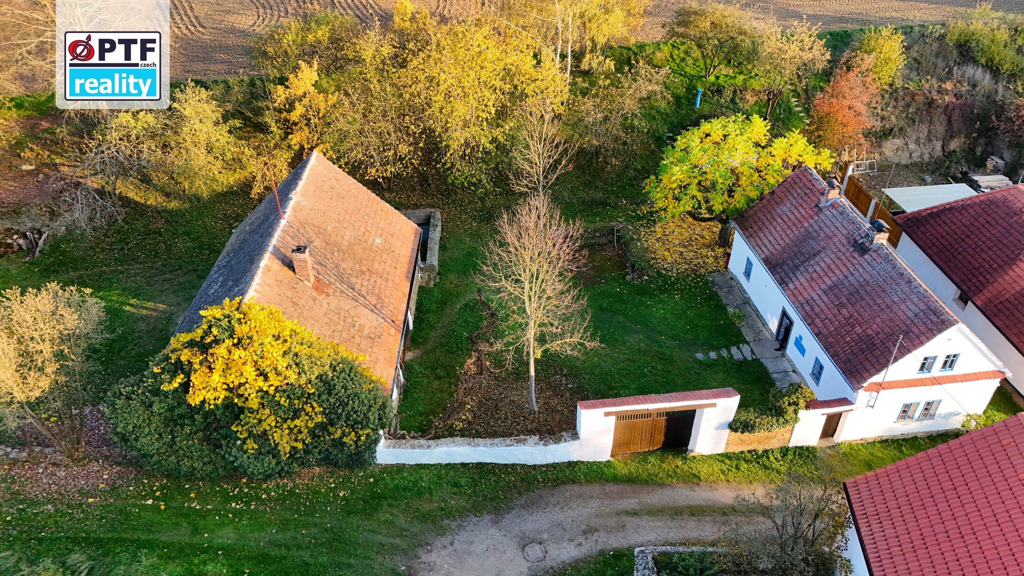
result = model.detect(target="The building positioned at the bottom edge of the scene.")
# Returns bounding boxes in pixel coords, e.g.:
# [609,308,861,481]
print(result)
[826,410,1024,576]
